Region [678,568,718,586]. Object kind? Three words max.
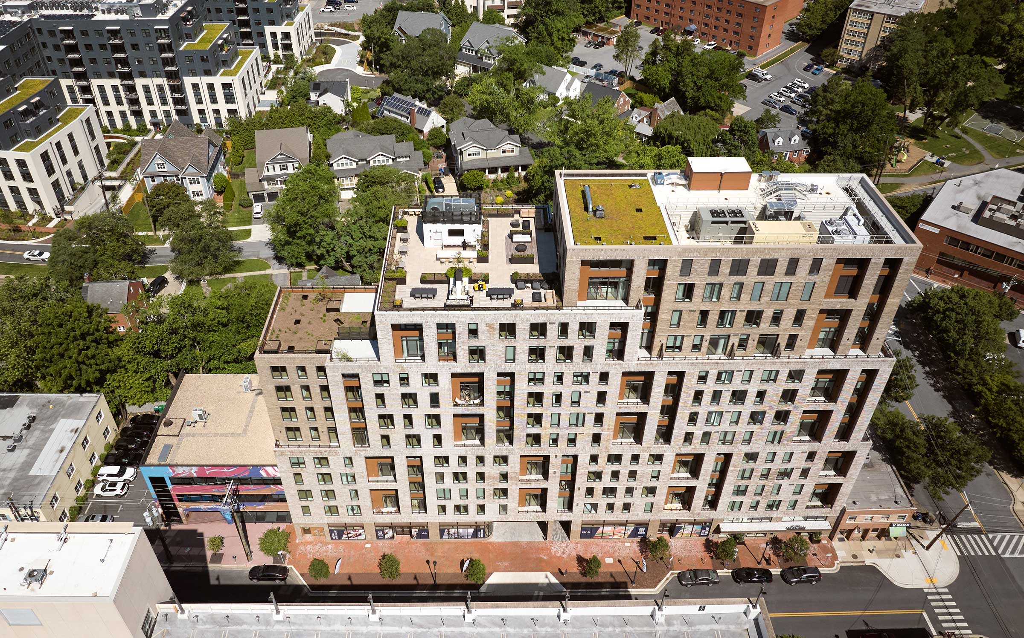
car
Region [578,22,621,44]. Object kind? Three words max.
house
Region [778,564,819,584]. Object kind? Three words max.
car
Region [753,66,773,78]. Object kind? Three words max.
vehicle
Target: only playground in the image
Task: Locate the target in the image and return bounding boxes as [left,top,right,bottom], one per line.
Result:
[879,138,928,173]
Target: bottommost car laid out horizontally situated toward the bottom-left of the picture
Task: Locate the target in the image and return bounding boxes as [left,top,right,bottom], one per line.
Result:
[246,564,287,583]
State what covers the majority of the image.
buildings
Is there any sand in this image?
No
